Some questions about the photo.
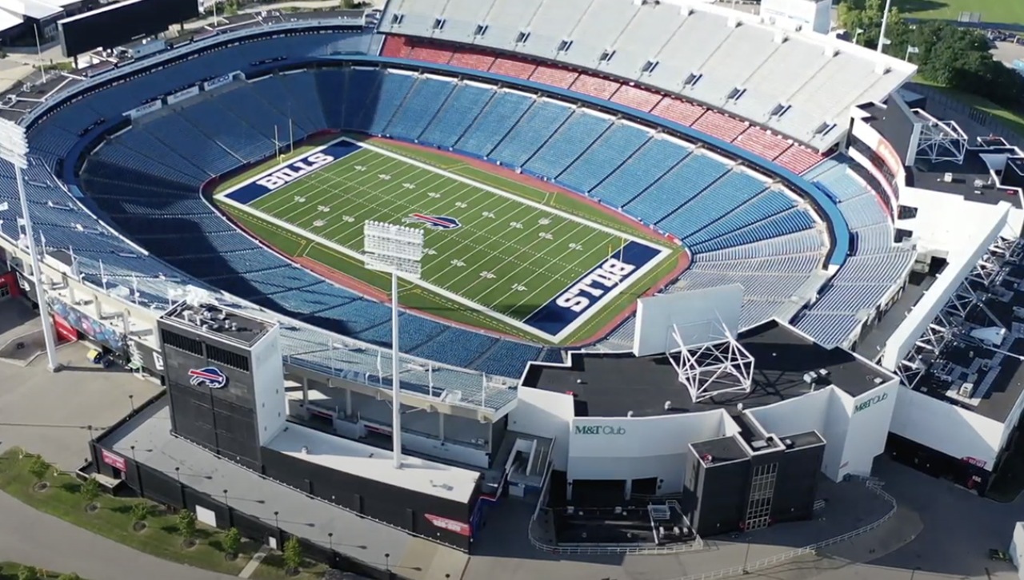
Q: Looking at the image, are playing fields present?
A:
Yes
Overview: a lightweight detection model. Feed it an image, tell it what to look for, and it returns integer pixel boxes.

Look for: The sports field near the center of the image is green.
[208,133,674,344]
